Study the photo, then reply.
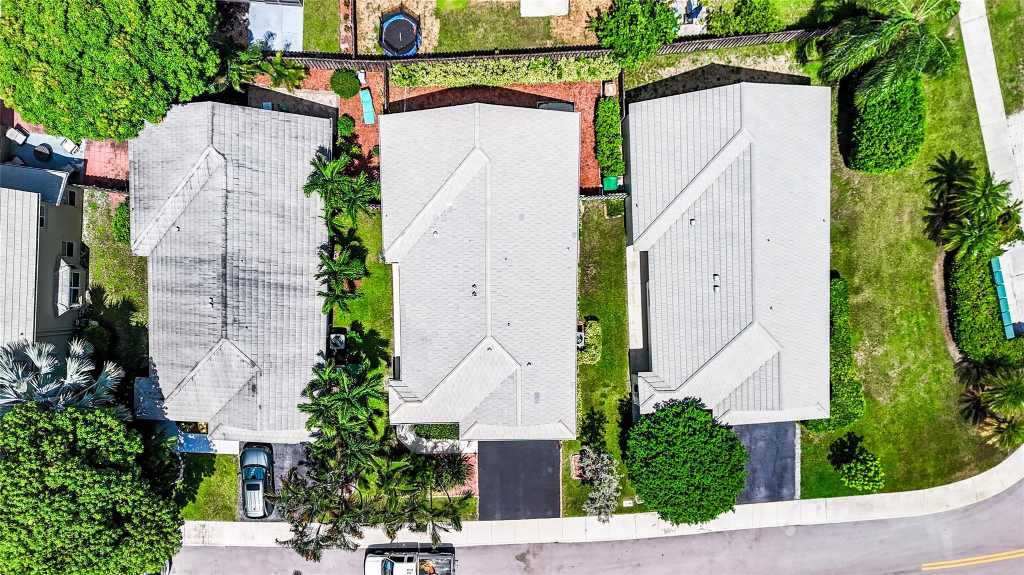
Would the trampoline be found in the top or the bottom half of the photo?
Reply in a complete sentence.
The trampoline is in the top half of the image.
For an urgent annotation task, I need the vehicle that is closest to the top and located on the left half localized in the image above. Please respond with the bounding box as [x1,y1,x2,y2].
[237,443,275,519]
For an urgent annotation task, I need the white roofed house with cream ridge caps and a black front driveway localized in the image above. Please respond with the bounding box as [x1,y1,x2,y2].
[379,103,581,442]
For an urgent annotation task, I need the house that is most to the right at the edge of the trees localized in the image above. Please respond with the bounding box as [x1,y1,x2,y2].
[625,82,832,425]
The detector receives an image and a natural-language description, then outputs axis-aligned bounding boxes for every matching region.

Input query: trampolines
[375,0,422,59]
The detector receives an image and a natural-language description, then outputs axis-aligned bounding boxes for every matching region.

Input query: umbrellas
[683,0,709,25]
